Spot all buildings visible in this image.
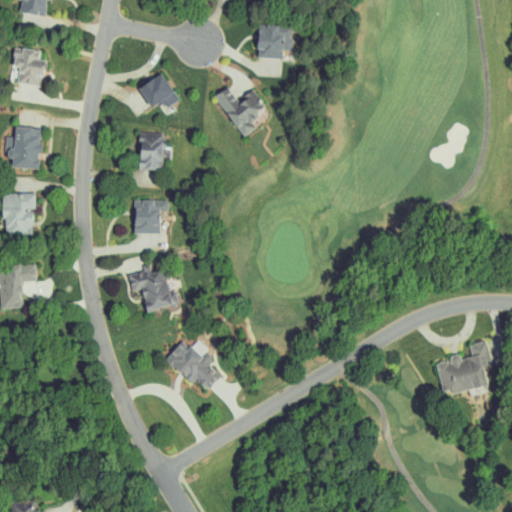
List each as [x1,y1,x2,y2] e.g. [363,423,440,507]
[2,193,36,234]
[129,265,182,313]
[216,87,270,136]
[167,340,221,389]
[138,72,180,112]
[0,264,37,310]
[258,24,295,63]
[139,132,173,171]
[6,126,42,168]
[12,502,40,512]
[10,48,47,84]
[134,200,175,234]
[438,341,493,395]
